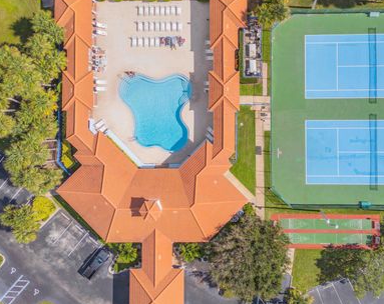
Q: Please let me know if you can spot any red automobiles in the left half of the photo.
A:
No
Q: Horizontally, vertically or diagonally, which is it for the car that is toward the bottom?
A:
diagonally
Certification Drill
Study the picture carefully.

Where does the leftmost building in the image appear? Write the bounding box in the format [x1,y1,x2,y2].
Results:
[55,0,250,304]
